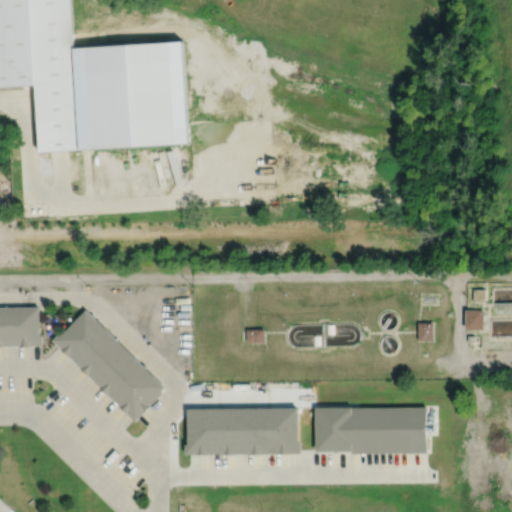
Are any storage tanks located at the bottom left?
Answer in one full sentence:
No, there is no storage tank at the bottom left.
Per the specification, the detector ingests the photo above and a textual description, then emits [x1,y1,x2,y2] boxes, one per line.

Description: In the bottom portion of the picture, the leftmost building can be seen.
[0,308,41,346]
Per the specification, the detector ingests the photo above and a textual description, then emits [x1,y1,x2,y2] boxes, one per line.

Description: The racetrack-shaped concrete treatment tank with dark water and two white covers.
[288,320,362,350]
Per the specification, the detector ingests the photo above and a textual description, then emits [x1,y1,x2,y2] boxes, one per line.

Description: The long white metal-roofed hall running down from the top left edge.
[0,0,76,152]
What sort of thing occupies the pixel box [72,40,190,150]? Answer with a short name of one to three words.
building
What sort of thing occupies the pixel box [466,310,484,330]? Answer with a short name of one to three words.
building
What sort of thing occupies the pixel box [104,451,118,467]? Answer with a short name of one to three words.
vehicle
